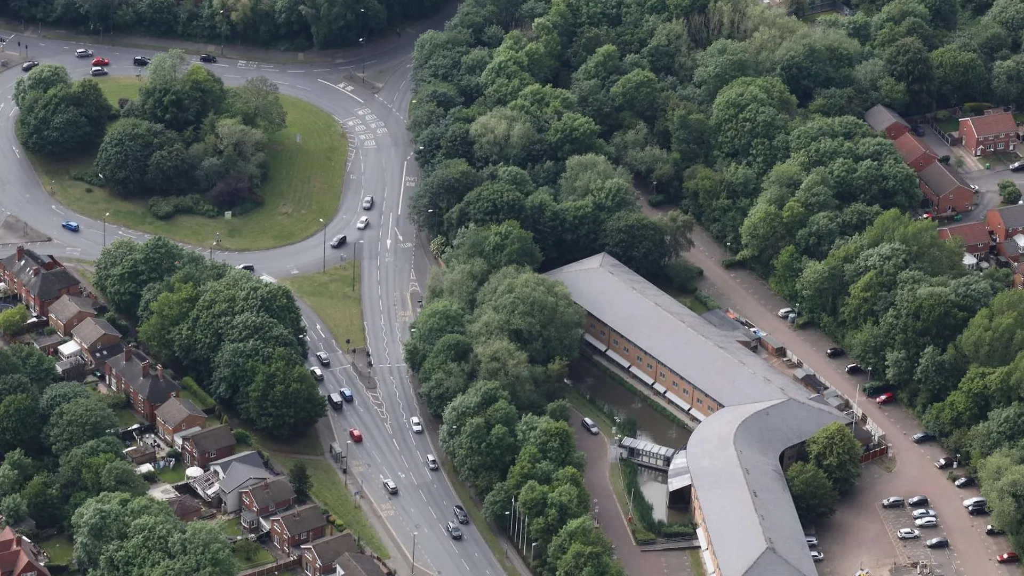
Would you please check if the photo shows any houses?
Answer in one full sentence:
Yes, the frame does contain a house.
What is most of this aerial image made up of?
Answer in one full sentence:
The largest share of the image is taken up by trees.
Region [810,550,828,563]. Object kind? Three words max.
vehicle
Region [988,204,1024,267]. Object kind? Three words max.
house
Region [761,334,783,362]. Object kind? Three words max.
shed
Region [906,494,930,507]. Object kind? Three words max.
vehicle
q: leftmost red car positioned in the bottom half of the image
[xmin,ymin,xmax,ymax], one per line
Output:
[349,429,363,443]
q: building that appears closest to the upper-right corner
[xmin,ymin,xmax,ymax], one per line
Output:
[960,107,1018,156]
